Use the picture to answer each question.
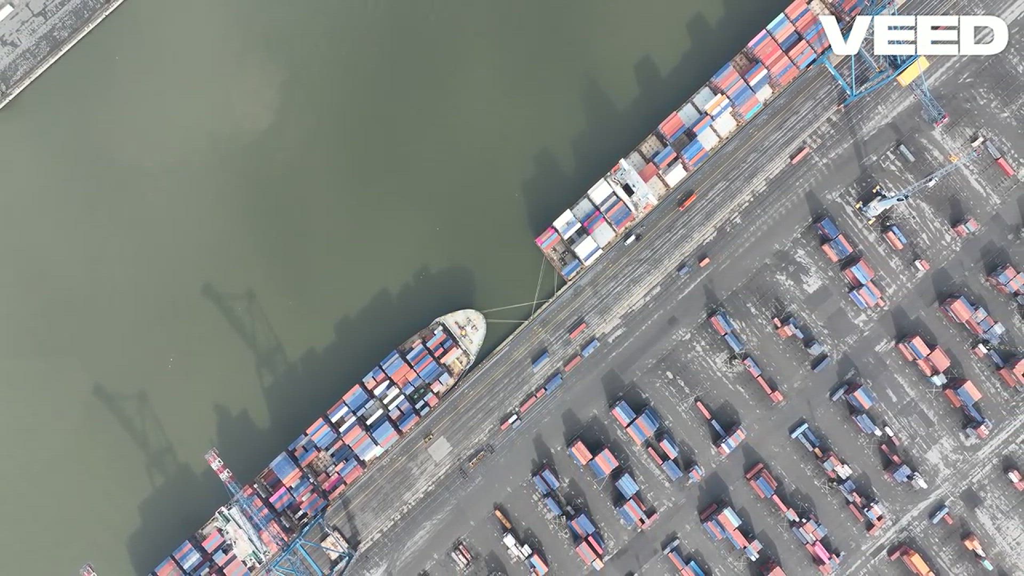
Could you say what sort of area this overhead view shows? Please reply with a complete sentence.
The area seen from above is a port.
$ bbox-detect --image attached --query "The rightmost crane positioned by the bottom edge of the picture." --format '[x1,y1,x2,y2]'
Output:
[206,450,361,576]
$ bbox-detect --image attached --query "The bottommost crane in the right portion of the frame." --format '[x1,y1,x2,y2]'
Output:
[856,145,983,224]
